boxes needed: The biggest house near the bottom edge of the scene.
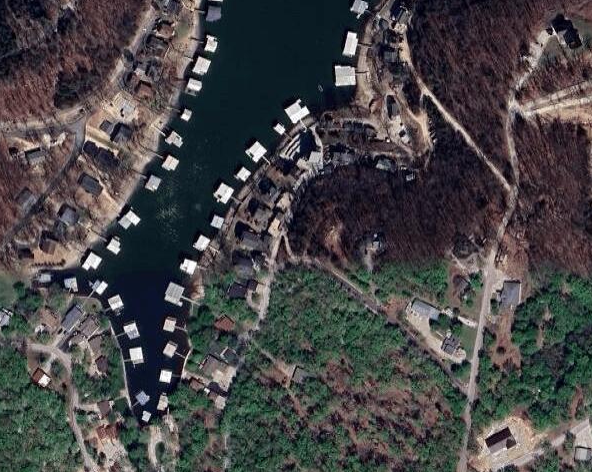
[486,427,517,453]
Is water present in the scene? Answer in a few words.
Yes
